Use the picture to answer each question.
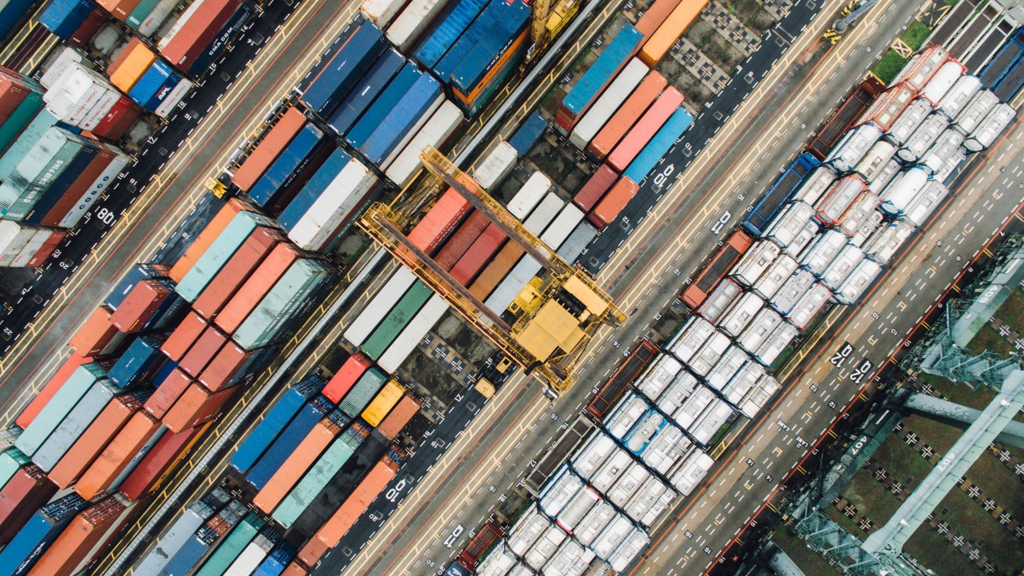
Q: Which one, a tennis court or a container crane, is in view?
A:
container crane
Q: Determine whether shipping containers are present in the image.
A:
Yes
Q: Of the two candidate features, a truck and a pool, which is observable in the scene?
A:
truck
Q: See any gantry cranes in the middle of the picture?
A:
Yes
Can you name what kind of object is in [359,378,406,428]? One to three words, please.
shipping container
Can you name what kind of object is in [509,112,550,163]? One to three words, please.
shipping container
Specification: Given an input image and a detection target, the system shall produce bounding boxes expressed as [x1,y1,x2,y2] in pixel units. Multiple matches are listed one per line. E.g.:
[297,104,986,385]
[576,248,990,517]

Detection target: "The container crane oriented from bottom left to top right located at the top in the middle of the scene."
[515,0,582,75]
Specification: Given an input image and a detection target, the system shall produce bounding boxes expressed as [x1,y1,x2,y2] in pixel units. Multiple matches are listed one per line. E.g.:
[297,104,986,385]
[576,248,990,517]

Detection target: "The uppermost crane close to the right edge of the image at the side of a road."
[898,214,1024,394]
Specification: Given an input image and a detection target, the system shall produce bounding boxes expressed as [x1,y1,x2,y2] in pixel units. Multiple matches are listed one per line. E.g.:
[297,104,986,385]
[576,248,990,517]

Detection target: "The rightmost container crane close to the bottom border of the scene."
[767,376,1024,576]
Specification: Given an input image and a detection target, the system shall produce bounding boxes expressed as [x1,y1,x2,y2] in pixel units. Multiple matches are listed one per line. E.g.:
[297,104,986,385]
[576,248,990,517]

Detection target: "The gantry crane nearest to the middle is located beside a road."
[355,138,636,400]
